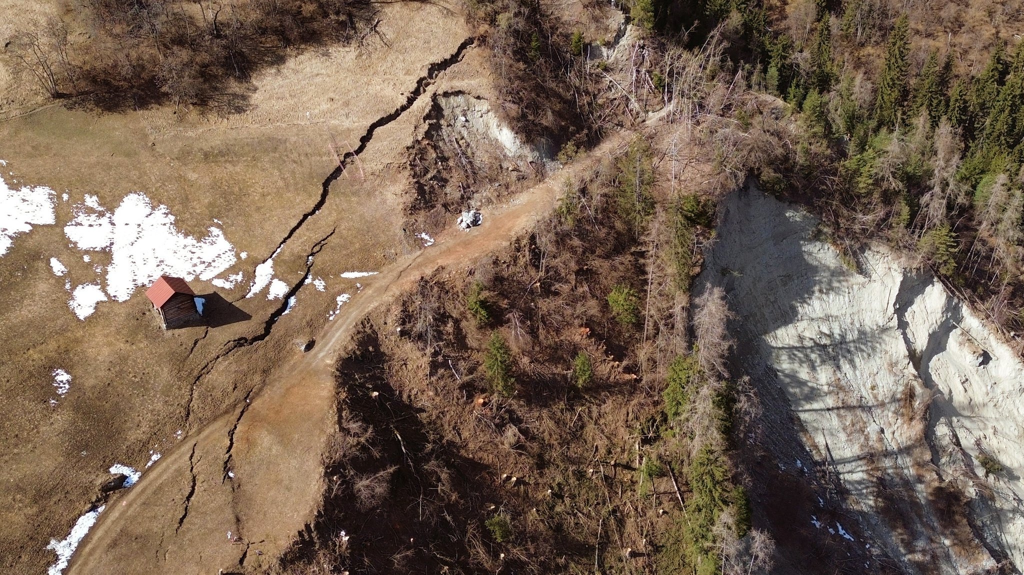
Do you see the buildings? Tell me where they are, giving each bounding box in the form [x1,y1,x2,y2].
[145,275,198,333]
